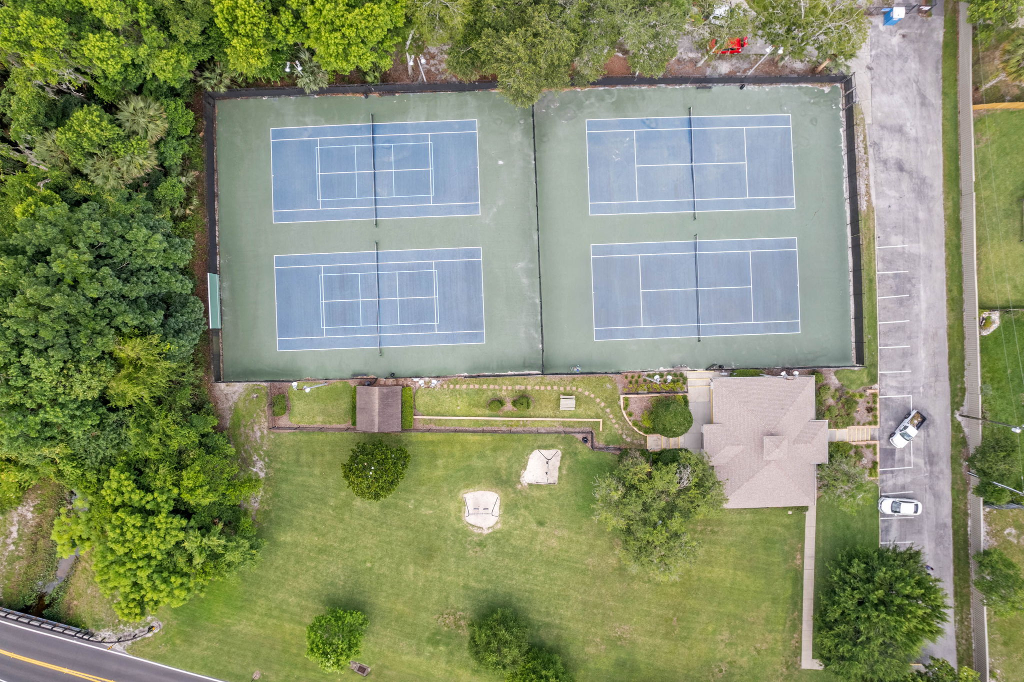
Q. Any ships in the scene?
No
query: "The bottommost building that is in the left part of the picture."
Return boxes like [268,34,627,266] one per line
[356,386,402,433]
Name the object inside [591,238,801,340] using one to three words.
tennis court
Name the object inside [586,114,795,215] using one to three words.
tennis court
